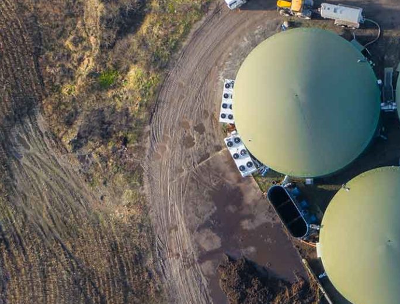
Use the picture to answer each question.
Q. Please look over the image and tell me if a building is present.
No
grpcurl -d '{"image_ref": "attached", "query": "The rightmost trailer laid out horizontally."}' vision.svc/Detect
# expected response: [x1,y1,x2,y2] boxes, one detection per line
[312,4,365,30]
